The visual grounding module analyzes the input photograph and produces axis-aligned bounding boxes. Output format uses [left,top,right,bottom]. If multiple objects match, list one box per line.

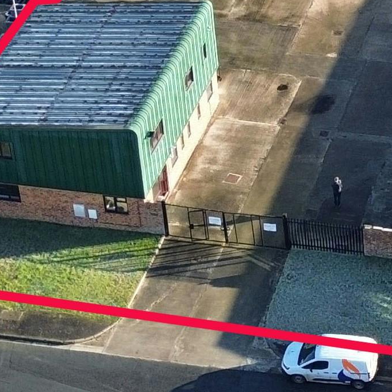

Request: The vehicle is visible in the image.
[283,334,383,392]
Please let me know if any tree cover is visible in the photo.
No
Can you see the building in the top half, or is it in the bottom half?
top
